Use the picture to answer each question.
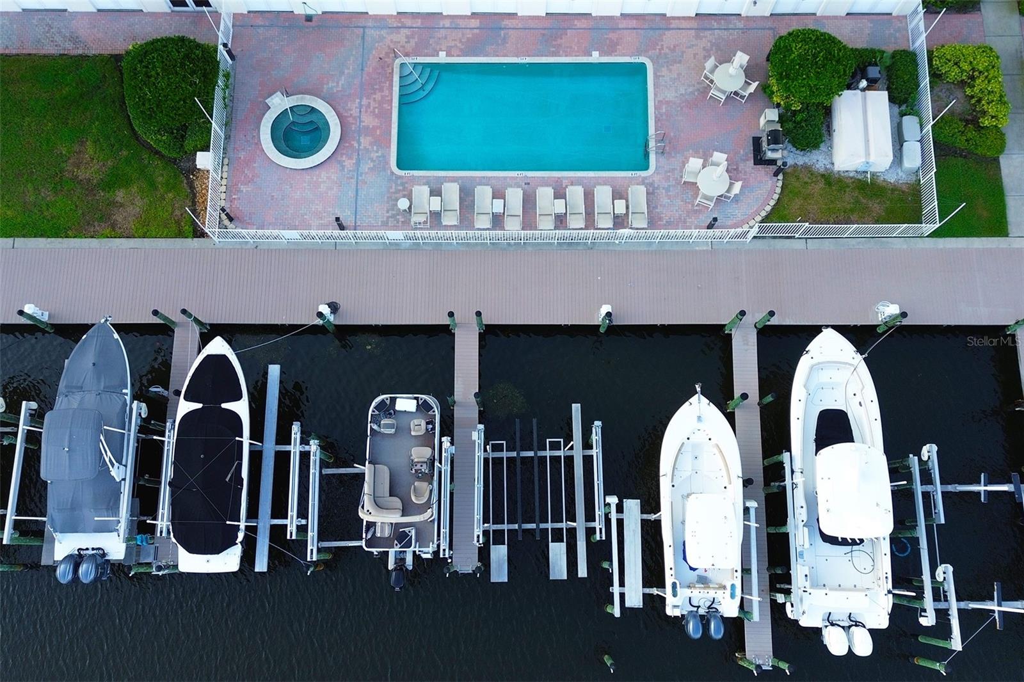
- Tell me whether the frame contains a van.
No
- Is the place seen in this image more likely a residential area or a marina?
marina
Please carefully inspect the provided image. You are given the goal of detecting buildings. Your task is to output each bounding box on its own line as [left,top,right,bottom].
[0,0,918,15]
[831,88,897,170]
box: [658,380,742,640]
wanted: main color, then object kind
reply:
white boat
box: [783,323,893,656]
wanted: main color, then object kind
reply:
white boat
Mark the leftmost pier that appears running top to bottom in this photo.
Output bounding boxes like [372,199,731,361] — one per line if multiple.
[154,325,201,565]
